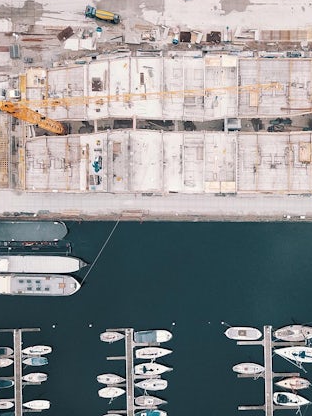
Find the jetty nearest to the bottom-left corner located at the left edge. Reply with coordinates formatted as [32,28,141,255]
[0,326,42,416]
